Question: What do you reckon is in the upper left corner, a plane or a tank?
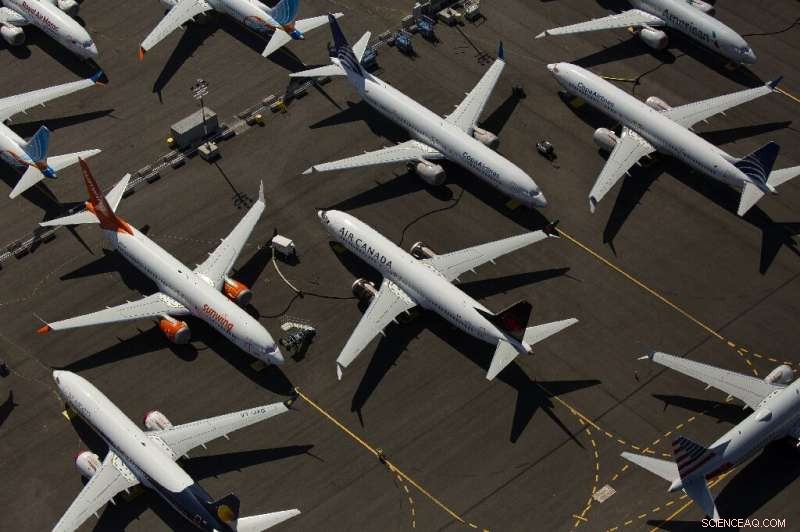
plane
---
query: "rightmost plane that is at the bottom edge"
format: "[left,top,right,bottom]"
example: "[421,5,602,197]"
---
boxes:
[621,342,800,523]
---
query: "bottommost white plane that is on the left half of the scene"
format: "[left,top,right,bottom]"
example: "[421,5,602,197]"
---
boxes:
[50,370,302,532]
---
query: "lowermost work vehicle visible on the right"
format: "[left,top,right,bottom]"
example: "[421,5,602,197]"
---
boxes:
[533,137,553,157]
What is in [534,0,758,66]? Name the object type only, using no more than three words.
airplane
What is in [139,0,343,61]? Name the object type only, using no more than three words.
airplane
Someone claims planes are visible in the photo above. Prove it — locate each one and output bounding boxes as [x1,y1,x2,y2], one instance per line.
[319,209,578,380]
[0,0,100,61]
[0,67,107,199]
[546,62,800,216]
[139,0,343,61]
[534,0,758,66]
[621,342,800,523]
[35,157,285,363]
[50,370,302,532]
[291,13,548,209]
